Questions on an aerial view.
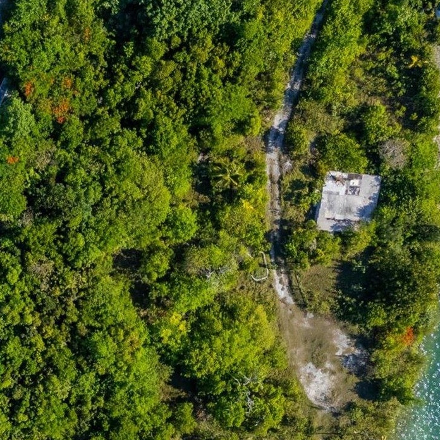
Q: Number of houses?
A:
1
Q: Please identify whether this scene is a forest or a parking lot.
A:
forest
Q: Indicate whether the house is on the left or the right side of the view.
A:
right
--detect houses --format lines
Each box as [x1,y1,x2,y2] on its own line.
[311,170,382,232]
